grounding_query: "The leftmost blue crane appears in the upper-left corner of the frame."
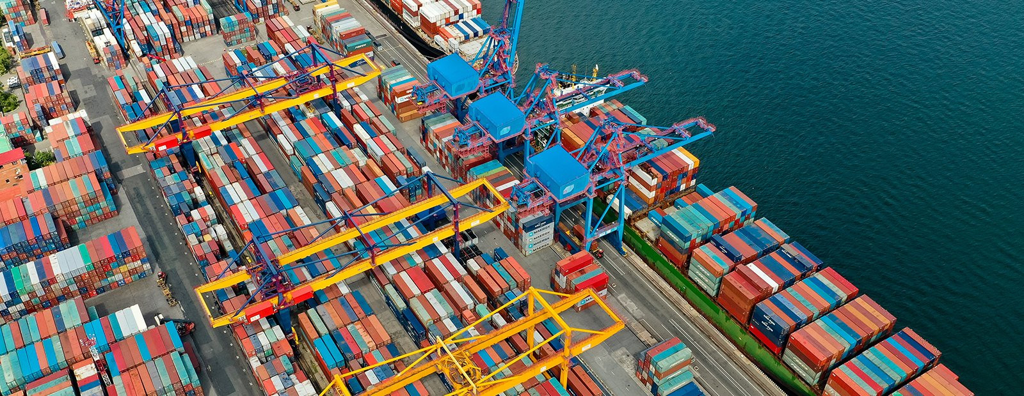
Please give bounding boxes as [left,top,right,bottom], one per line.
[99,0,128,56]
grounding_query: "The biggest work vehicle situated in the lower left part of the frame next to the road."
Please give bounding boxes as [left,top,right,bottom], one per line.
[154,303,197,330]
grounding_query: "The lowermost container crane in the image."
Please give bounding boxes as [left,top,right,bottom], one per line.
[310,283,630,396]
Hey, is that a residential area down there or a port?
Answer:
port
